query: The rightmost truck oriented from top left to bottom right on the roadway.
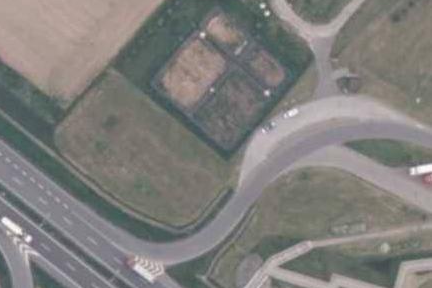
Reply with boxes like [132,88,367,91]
[122,254,157,284]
